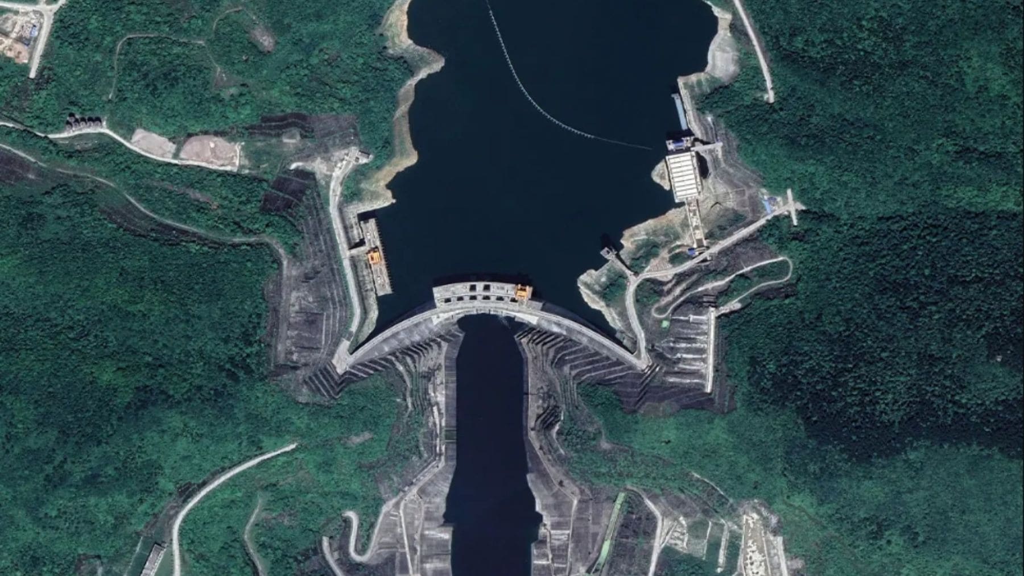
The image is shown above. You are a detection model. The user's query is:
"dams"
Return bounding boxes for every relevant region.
[343,282,645,373]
